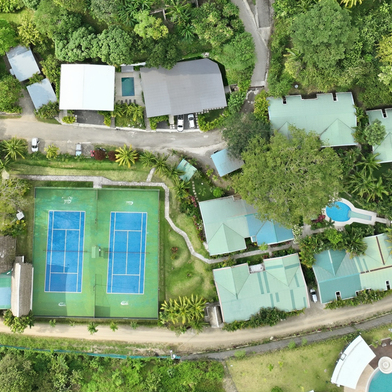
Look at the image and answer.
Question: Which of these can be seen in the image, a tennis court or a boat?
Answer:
tennis court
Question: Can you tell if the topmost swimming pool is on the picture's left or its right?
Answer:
left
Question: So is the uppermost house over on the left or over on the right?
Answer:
left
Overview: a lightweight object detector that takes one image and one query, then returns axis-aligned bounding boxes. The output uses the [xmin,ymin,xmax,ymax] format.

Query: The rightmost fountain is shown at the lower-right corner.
[377,357,392,374]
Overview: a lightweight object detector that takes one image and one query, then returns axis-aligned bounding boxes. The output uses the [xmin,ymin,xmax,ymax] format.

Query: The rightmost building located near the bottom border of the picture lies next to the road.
[330,334,376,386]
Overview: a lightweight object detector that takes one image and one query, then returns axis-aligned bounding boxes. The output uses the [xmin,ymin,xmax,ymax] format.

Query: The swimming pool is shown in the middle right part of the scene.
[324,198,377,226]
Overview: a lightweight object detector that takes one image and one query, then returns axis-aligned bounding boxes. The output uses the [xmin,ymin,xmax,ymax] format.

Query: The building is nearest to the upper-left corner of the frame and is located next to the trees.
[7,46,41,81]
